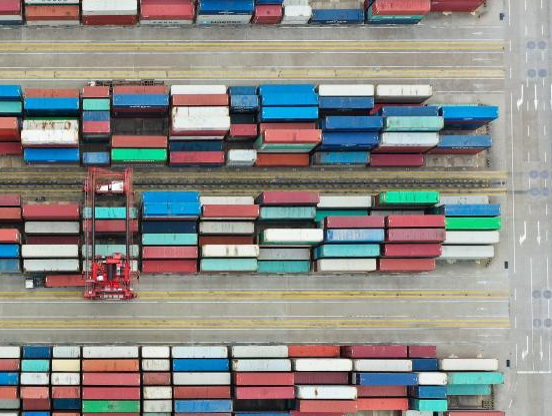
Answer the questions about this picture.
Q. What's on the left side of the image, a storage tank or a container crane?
container crane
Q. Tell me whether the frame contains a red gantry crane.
Yes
